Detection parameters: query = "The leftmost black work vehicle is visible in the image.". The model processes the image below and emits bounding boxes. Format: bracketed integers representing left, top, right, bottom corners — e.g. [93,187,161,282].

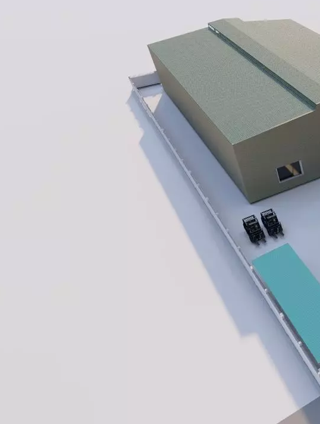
[244,214,265,244]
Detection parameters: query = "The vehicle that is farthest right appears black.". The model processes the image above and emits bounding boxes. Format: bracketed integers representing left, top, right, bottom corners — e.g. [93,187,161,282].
[262,208,283,238]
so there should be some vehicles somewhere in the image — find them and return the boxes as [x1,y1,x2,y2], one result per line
[244,214,265,244]
[262,208,283,238]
